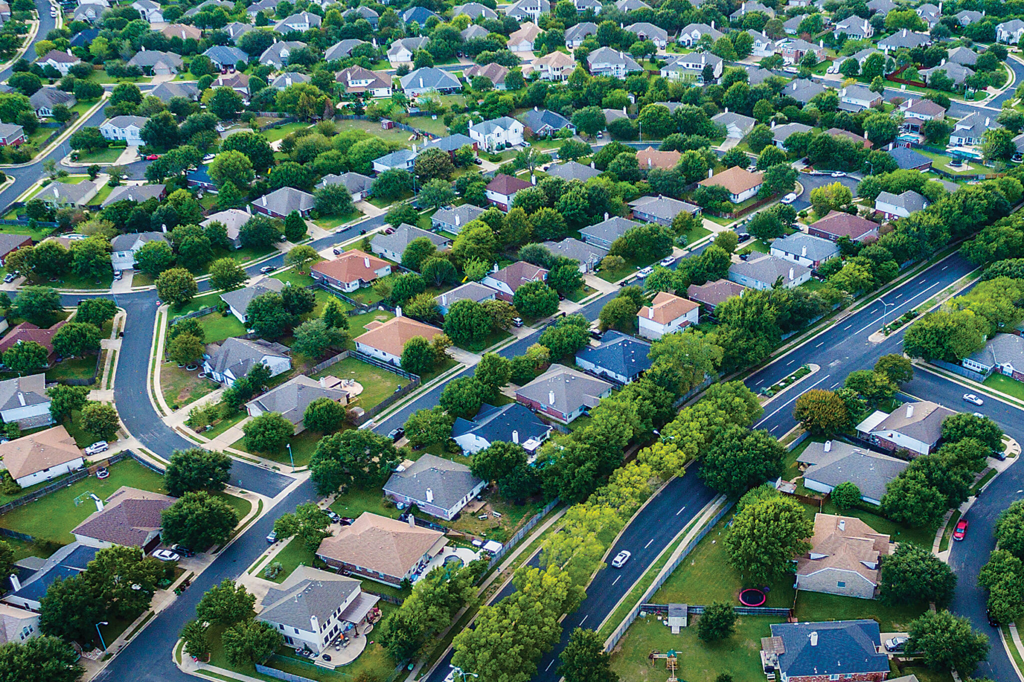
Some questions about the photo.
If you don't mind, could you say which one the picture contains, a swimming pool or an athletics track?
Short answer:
swimming pool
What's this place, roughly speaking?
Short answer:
residential area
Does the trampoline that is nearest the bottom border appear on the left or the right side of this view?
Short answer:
right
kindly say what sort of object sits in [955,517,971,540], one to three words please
vehicle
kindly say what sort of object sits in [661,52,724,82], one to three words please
house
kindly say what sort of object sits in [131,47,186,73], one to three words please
house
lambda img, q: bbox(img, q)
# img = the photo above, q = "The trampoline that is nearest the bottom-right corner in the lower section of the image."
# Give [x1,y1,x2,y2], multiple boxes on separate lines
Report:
[738,586,767,606]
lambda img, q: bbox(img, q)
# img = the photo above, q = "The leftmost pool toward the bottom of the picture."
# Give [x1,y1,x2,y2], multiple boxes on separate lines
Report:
[413,537,493,579]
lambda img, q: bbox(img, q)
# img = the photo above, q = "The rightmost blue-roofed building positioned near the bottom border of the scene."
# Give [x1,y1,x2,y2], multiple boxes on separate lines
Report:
[760,614,894,682]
